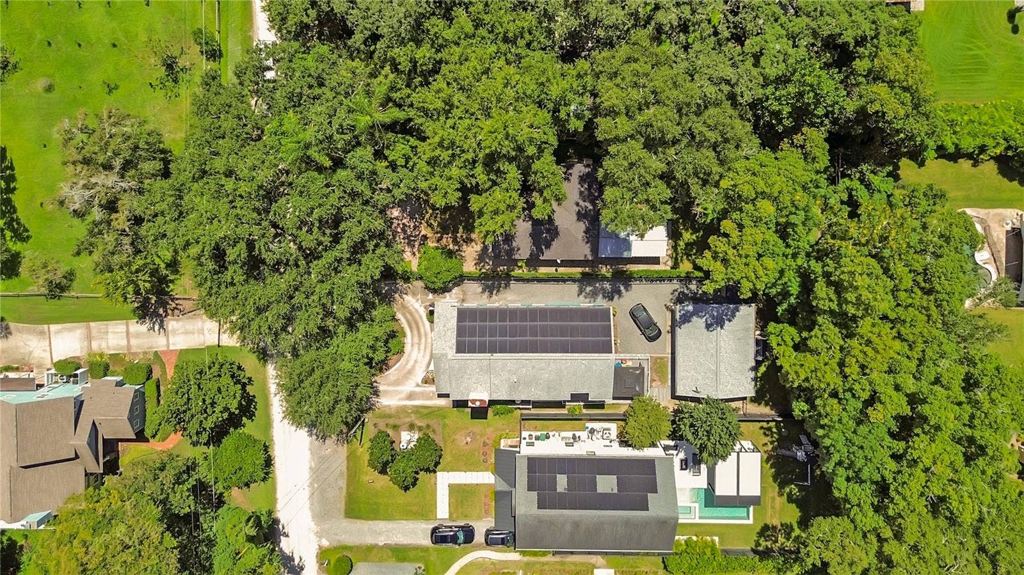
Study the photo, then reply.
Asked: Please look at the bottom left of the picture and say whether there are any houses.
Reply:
Yes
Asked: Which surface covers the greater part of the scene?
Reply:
trees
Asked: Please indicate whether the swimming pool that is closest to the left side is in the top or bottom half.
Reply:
bottom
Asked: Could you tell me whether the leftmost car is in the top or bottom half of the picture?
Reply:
bottom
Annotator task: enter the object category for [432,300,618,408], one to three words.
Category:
house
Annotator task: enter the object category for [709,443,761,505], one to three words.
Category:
building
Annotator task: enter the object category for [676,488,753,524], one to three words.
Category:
swimming pool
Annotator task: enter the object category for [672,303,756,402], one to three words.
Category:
barn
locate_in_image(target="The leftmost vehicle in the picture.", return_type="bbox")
[432,524,475,546]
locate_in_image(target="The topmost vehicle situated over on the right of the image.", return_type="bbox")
[630,302,660,340]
